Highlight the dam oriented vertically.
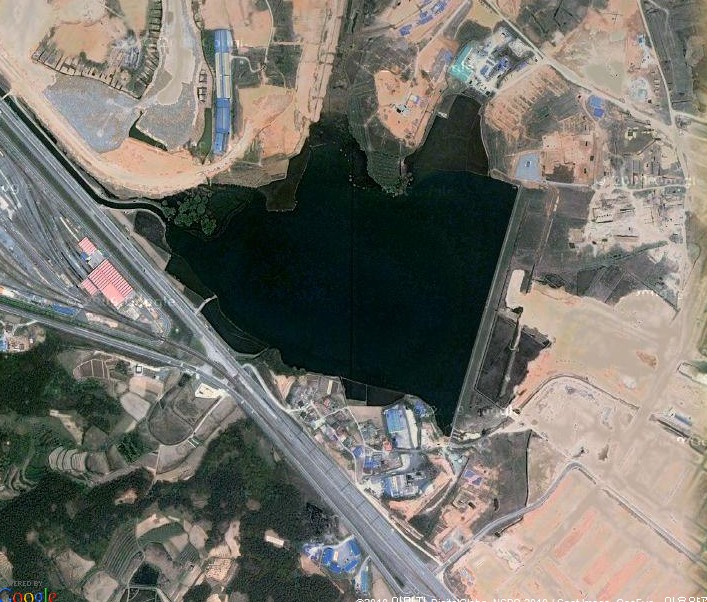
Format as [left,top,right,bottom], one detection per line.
[450,184,531,439]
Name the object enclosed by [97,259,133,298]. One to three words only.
building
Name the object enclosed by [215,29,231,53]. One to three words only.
building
